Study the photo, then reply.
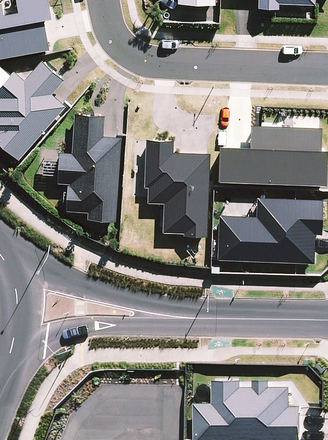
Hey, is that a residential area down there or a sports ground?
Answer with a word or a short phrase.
residential area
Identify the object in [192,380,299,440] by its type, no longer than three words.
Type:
house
